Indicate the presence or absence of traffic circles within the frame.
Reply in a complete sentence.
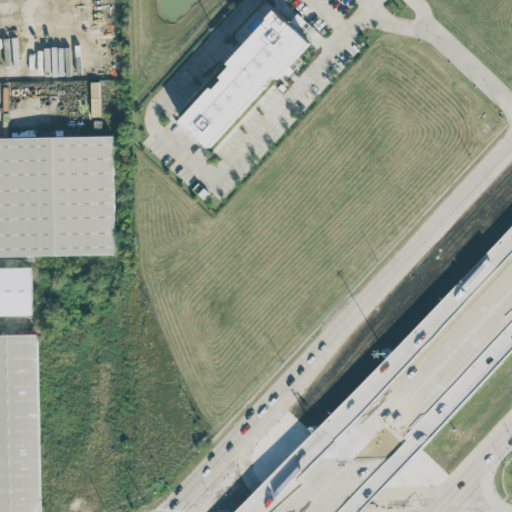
No, I can see no traffic circle in this picture.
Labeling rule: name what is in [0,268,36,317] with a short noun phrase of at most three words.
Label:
building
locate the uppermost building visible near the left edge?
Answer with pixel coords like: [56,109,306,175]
[0,138,119,256]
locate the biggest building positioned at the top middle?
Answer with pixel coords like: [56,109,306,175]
[178,10,312,149]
